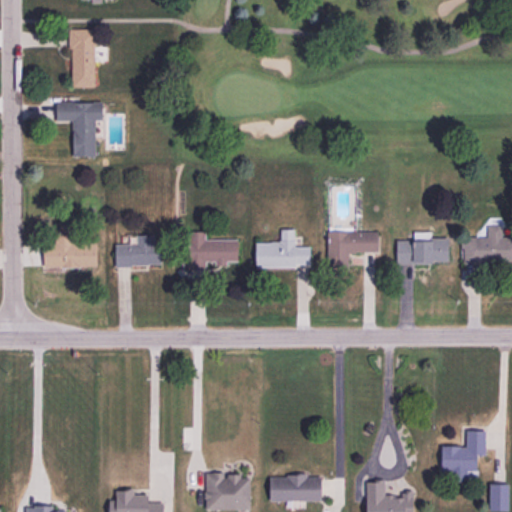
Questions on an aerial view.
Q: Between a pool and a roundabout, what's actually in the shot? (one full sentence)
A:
I can see a pool in this picture.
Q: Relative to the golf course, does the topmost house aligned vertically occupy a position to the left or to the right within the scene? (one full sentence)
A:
Relative to the golf course, the topmost house aligned vertically is on the left.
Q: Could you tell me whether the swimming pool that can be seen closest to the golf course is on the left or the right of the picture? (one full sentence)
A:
It is on the left.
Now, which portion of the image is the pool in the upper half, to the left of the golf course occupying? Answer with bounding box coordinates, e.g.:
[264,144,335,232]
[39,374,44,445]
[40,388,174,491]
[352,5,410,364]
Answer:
[106,113,126,151]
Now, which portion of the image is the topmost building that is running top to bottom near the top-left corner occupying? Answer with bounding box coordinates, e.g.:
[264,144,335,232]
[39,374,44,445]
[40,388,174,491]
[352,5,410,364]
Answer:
[69,29,96,88]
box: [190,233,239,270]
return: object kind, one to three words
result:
house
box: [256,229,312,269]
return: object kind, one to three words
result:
house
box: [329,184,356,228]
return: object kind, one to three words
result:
swimming pool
